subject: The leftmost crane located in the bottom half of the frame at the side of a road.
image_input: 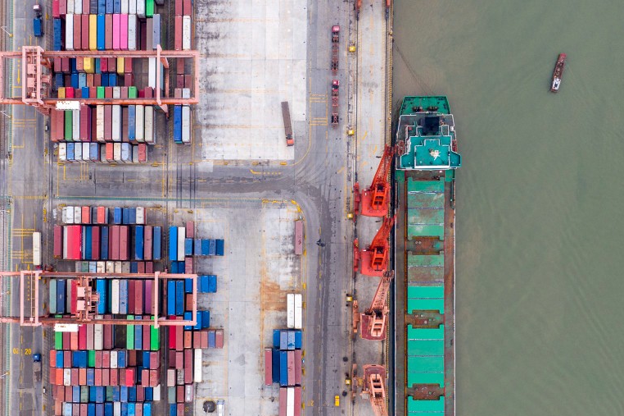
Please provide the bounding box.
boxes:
[0,260,198,334]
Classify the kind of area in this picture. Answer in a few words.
port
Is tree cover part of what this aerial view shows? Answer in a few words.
No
